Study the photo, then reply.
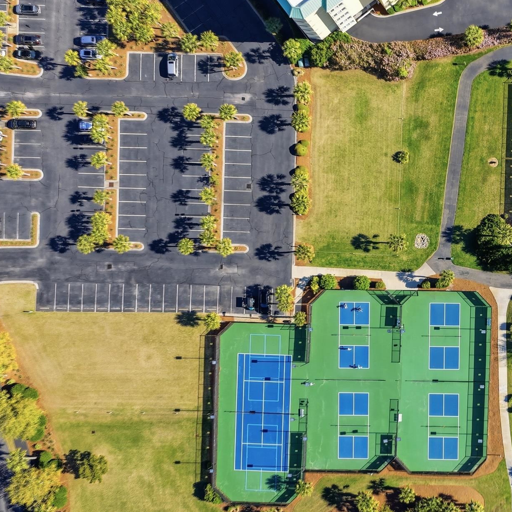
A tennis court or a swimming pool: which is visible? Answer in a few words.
tennis court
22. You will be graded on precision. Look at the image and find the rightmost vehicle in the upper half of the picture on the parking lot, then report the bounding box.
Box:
[166,53,179,78]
